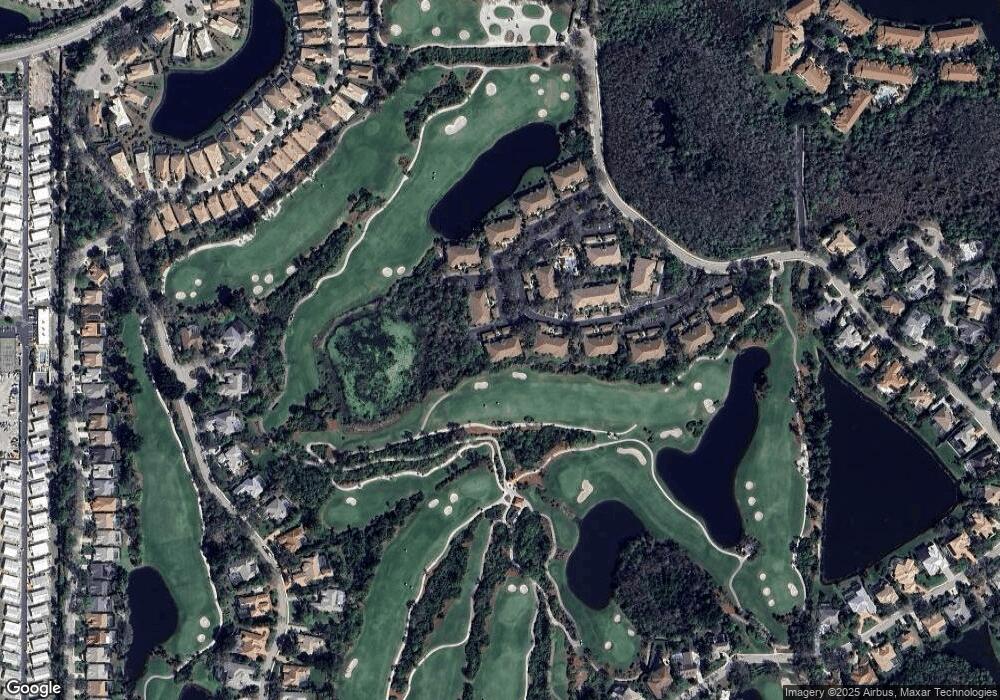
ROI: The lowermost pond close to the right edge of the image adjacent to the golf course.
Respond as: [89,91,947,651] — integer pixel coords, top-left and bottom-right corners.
[819,357,960,585]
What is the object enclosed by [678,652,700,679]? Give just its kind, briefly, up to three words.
house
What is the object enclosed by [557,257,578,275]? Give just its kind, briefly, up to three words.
swimming pool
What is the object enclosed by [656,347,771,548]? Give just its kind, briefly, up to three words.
pond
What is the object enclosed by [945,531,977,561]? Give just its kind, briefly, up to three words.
house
